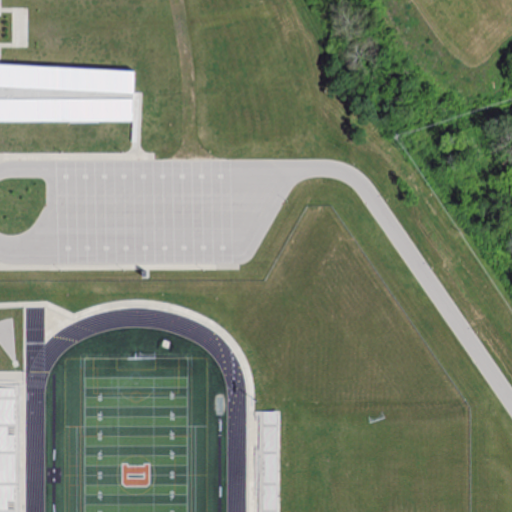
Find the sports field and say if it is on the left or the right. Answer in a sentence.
The sports field is on the left side of the image.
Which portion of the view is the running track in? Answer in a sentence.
The running track sits in the bottom left section of the image.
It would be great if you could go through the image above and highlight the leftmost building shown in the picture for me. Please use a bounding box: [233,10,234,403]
[0,64,134,122]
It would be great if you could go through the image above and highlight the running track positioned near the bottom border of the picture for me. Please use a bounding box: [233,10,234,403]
[26,308,246,512]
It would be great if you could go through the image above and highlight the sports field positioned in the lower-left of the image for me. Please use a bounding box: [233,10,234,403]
[45,329,227,512]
